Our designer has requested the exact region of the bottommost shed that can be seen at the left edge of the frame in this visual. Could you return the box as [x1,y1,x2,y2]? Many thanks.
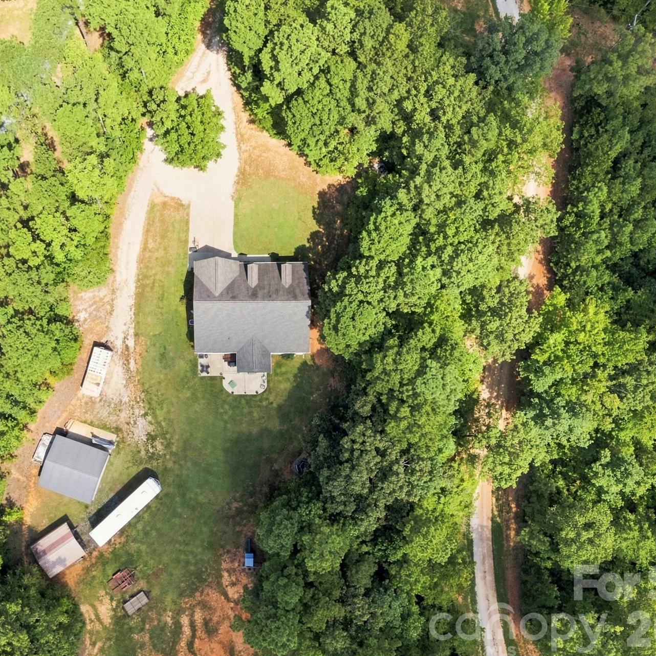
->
[31,520,87,577]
